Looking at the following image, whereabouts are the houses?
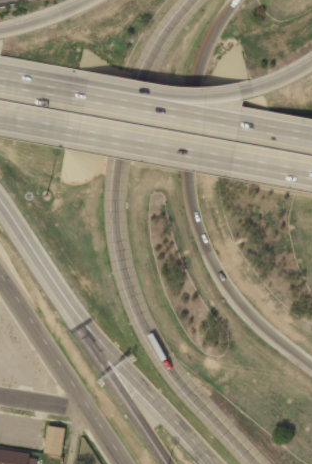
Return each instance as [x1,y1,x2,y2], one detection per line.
[0,450,38,464]
[44,426,66,461]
